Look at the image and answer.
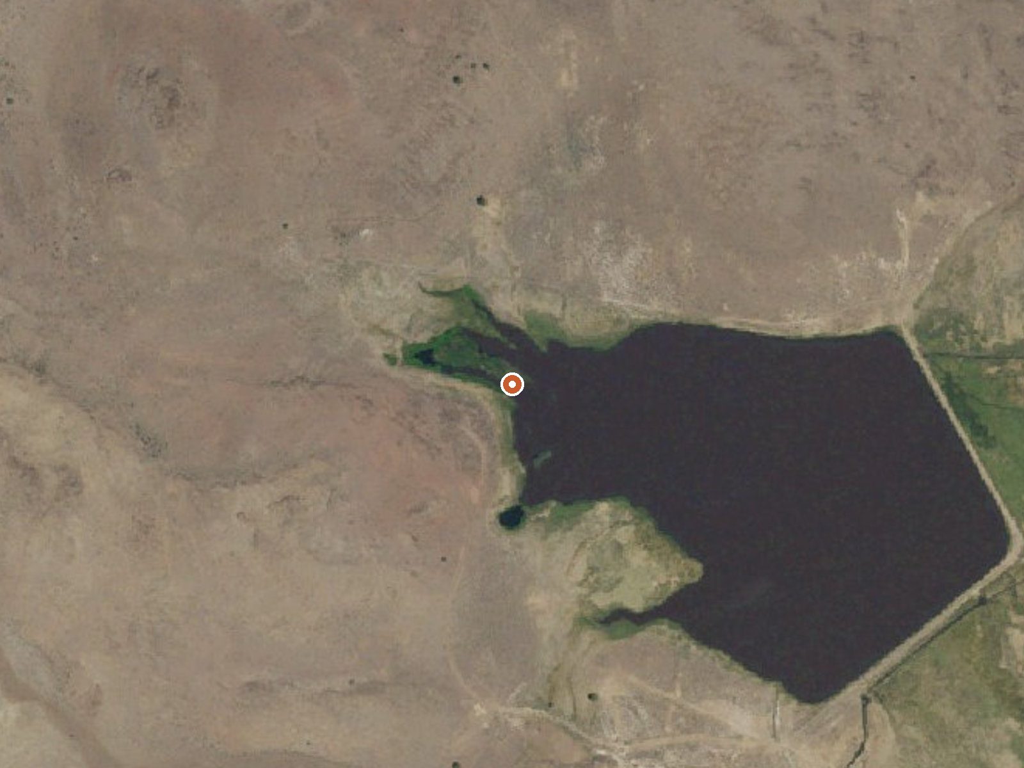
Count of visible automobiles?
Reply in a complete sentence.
There are no automobiles in the image.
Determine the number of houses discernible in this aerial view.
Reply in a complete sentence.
I count no houses.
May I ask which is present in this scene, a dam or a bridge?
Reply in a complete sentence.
The image shows a dam.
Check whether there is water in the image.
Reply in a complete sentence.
Yes, there's water in this view.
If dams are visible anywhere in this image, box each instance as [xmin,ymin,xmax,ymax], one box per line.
[833,323,1020,697]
